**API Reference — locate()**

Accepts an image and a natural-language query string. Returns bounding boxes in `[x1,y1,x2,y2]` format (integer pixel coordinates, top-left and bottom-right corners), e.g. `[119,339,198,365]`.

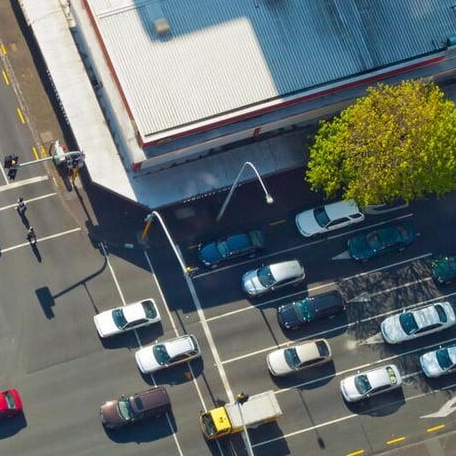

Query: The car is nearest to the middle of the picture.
[197,225,268,268]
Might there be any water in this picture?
No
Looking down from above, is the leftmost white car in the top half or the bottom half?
bottom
